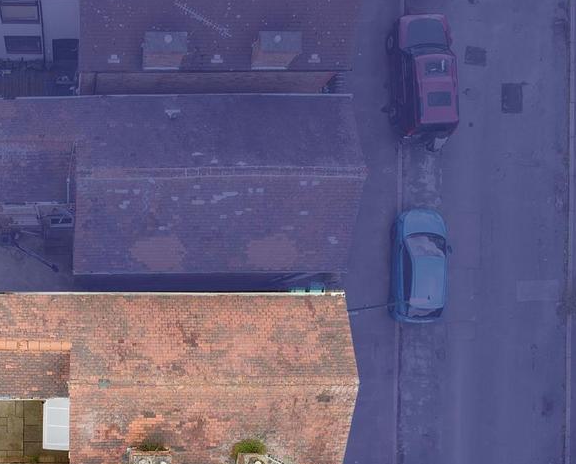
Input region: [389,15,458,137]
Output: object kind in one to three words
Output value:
car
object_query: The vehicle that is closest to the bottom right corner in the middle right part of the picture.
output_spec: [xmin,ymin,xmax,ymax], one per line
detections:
[390,210,453,323]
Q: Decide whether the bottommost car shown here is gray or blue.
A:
blue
